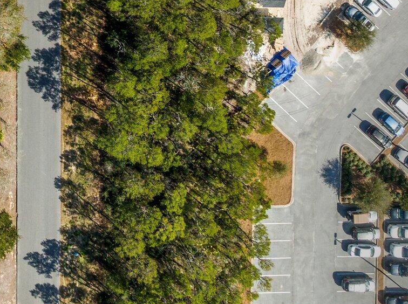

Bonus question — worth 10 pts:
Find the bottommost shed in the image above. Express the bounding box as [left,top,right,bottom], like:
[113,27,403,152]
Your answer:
[255,17,285,33]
